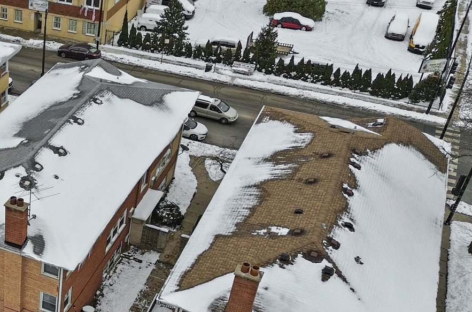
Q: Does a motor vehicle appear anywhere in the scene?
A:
Yes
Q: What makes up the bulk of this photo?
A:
buildings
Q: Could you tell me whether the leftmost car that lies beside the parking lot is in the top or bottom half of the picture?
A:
top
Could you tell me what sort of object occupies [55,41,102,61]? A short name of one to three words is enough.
car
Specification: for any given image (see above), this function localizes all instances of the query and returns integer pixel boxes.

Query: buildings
[156,104,448,312]
[0,0,144,44]
[0,61,198,312]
